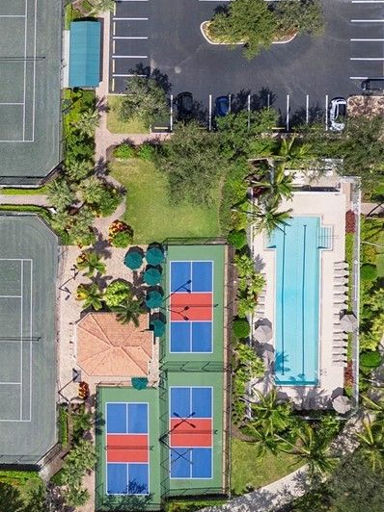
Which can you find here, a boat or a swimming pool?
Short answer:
swimming pool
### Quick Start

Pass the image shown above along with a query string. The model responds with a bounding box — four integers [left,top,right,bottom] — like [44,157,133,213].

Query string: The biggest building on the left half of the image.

[72,312,154,376]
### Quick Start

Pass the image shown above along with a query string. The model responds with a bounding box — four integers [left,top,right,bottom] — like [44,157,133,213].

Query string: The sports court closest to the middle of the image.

[160,244,225,372]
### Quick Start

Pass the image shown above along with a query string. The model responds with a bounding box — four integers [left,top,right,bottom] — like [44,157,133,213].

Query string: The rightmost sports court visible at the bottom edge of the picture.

[161,372,225,498]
